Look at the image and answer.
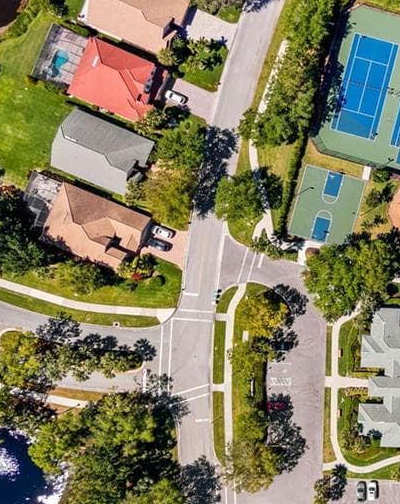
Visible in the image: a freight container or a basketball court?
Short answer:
basketball court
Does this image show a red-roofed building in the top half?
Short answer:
Yes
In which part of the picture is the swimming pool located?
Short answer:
top left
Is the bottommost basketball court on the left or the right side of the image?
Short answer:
right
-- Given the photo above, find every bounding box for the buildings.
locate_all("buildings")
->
[42,182,154,266]
[51,107,157,195]
[83,0,194,55]
[359,308,400,447]
[68,36,159,121]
